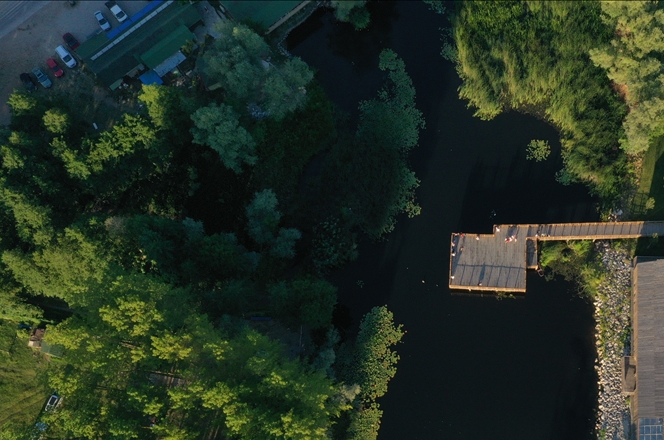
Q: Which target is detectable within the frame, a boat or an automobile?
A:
automobile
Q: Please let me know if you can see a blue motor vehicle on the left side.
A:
Yes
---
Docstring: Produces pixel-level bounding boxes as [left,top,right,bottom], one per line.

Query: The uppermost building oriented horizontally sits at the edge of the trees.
[225,0,310,40]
